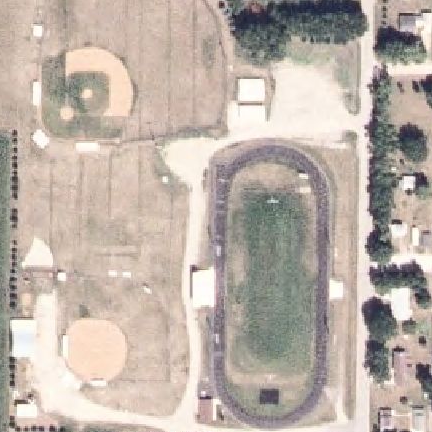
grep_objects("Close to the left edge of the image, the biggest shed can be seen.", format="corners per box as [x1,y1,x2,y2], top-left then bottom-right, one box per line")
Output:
[11,320,36,357]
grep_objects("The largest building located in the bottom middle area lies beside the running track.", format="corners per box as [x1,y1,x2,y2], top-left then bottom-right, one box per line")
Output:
[199,398,213,423]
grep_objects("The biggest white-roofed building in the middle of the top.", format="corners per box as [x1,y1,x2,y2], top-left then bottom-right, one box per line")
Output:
[240,78,266,103]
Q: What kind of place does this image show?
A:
sports ground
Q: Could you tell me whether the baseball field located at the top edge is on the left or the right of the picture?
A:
left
